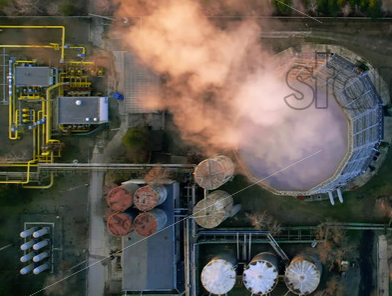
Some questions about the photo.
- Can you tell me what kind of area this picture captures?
industrial area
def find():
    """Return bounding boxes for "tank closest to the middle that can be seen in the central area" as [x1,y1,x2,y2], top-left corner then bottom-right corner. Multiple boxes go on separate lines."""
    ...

[194,152,235,191]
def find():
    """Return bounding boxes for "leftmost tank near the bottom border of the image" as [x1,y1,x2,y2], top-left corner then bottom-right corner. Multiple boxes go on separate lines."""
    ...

[201,252,241,294]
